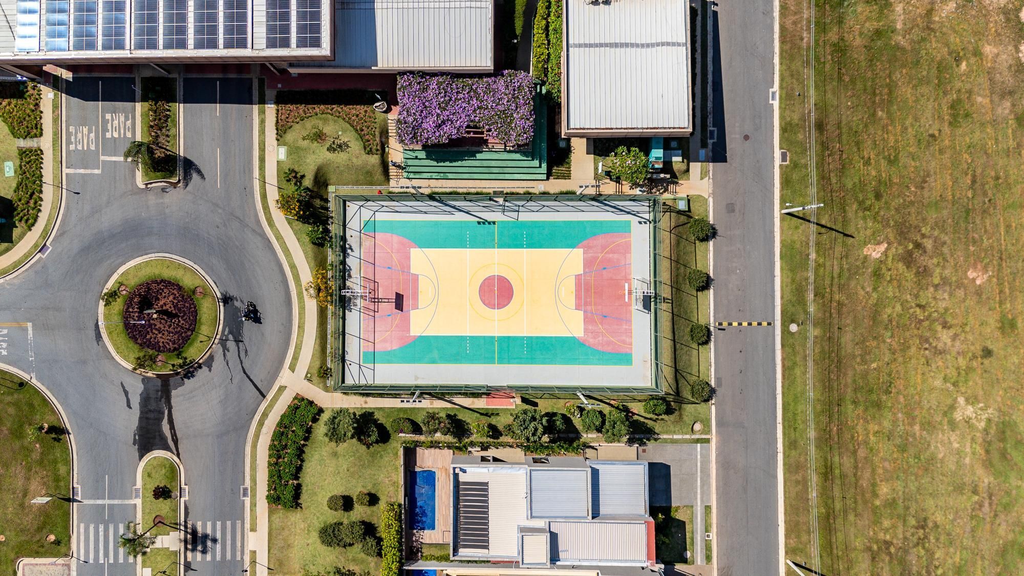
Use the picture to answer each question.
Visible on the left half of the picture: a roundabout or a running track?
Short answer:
roundabout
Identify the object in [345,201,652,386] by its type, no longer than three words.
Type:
sports court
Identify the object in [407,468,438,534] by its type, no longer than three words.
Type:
swimming pool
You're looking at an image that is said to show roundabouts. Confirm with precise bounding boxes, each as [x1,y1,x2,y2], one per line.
[99,253,224,378]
